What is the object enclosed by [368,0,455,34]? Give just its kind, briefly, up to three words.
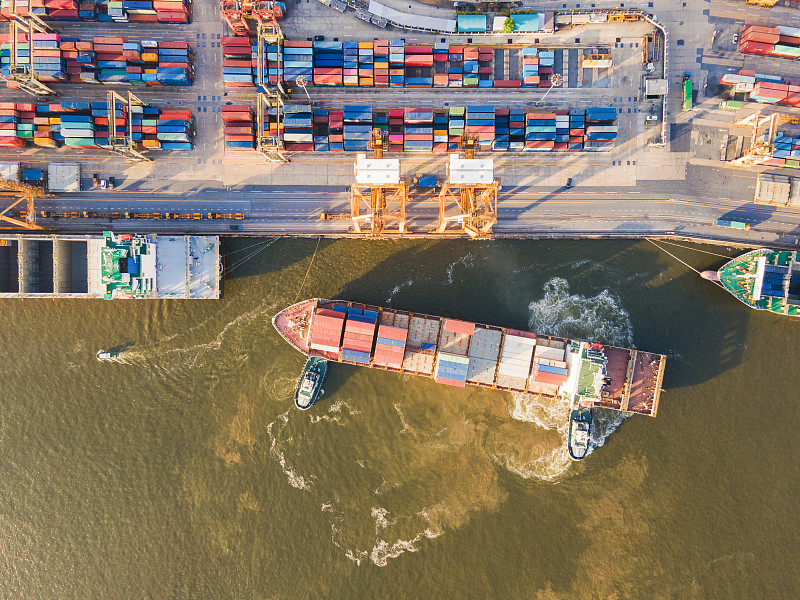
building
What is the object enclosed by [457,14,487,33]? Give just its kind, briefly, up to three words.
shed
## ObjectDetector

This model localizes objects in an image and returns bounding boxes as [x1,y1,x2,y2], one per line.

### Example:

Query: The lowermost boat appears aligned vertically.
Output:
[568,404,593,462]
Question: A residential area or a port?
port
